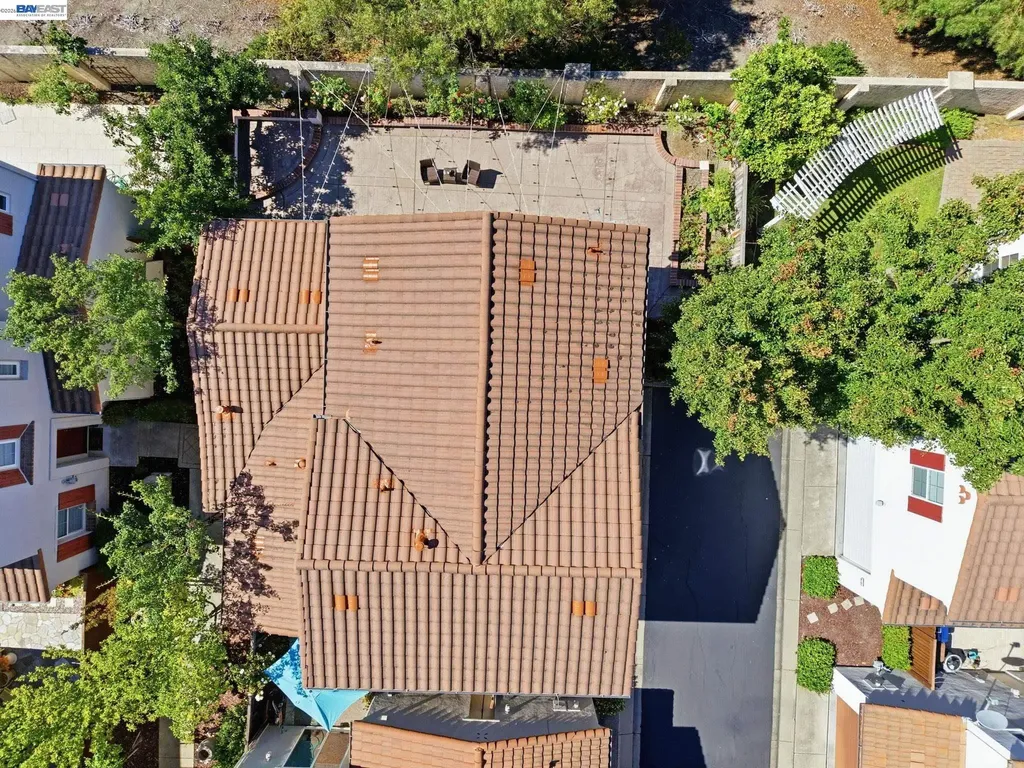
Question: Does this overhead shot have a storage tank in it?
No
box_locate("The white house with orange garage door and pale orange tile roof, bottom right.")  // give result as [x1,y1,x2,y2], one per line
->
[832,668,1024,768]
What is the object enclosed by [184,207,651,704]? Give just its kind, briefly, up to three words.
house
